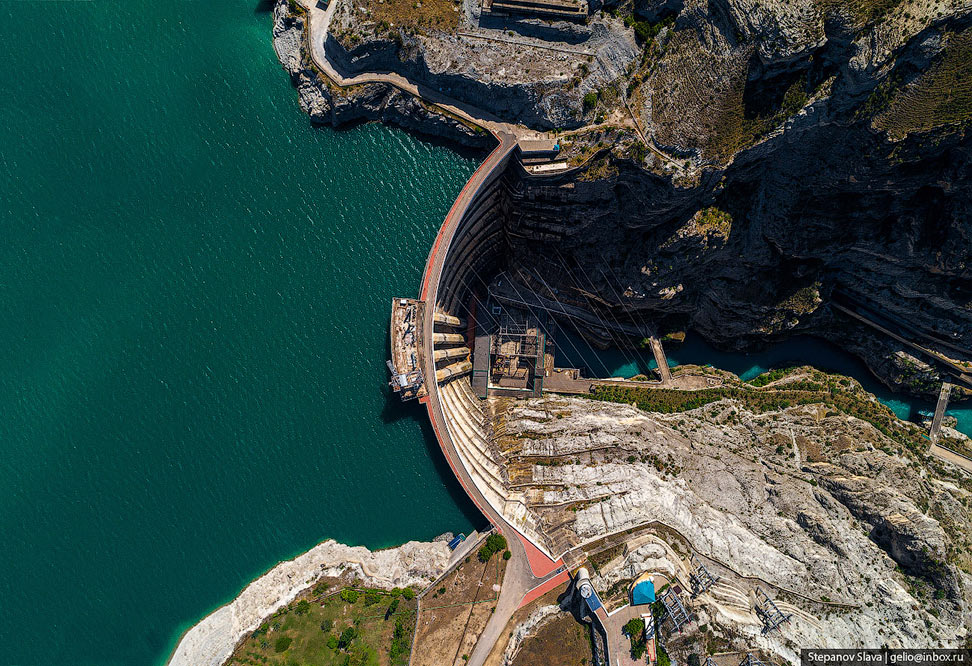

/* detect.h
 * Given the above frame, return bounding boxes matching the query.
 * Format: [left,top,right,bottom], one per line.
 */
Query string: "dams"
[421,129,590,562]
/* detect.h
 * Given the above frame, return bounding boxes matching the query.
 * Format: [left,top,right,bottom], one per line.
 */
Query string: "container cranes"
[386,360,425,396]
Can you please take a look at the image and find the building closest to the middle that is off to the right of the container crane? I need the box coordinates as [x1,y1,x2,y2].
[468,293,546,398]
